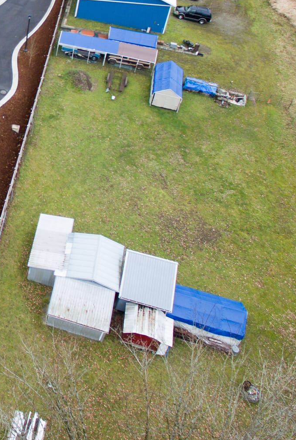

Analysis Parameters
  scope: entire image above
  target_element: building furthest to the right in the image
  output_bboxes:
[148,61,184,112]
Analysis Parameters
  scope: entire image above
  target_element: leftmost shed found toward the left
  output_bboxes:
[27,212,74,288]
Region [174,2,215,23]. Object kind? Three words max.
car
